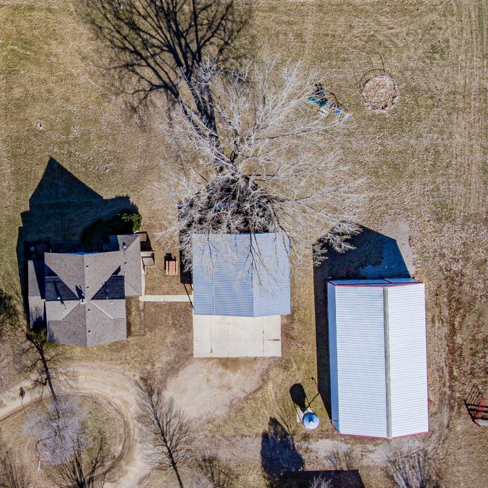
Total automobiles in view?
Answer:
zero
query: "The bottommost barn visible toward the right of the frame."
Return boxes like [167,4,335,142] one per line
[327,277,429,440]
